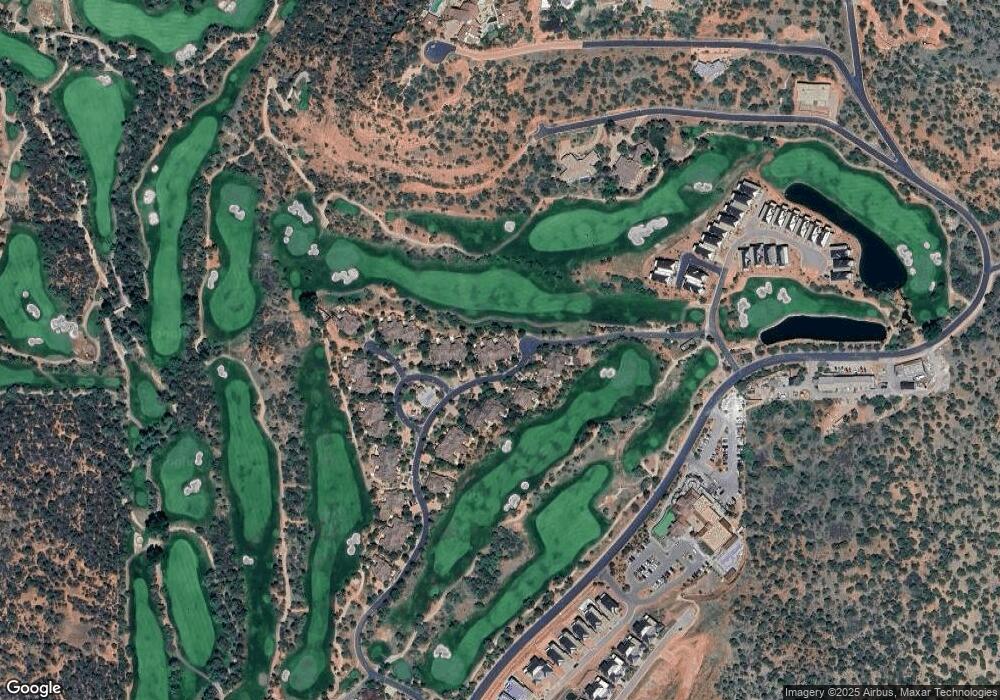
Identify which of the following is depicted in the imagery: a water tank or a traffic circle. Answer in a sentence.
It is a traffic circle that can be seen here.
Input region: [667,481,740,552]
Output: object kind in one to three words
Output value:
building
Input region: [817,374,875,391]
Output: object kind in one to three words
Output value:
shed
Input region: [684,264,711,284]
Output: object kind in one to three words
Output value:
house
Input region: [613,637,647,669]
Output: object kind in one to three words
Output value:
house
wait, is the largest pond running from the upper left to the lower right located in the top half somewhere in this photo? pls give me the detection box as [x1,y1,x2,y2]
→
[785,184,905,289]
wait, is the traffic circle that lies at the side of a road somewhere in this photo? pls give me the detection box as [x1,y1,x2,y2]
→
[395,373,449,432]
